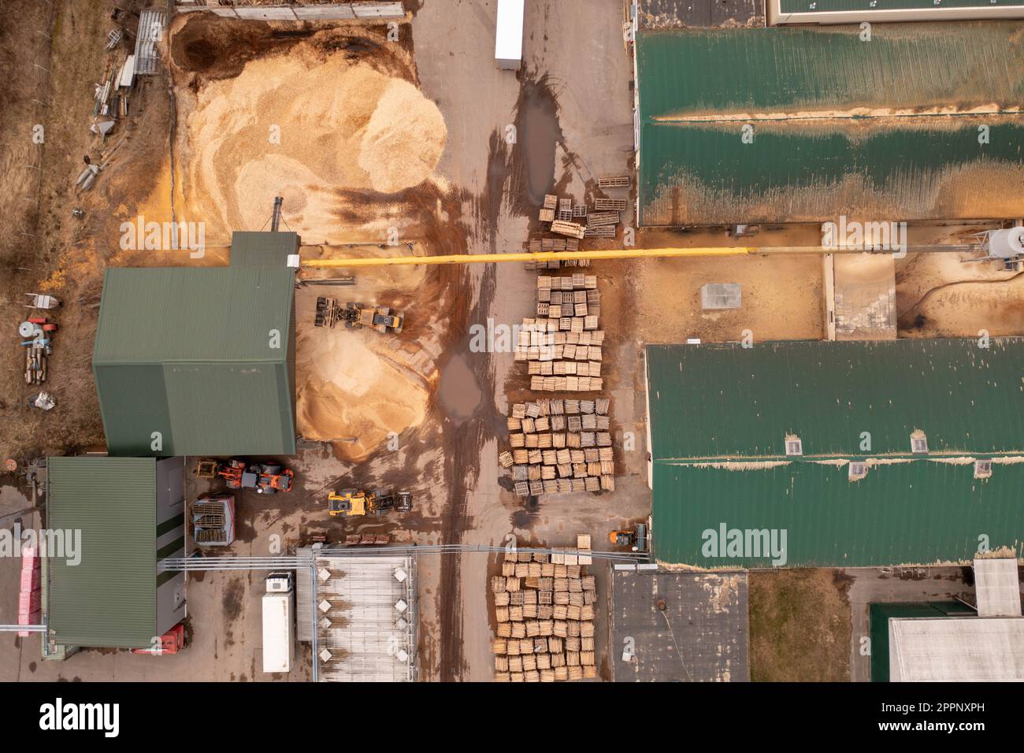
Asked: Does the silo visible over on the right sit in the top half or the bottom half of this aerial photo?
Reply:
top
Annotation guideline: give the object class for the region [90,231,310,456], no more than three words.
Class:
shed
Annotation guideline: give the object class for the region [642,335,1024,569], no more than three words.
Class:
building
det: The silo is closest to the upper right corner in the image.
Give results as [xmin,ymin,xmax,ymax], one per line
[944,228,1024,268]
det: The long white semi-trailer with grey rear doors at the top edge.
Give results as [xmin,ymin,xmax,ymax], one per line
[495,0,525,72]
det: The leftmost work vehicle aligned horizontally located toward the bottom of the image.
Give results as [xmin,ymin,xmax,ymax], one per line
[203,459,291,493]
